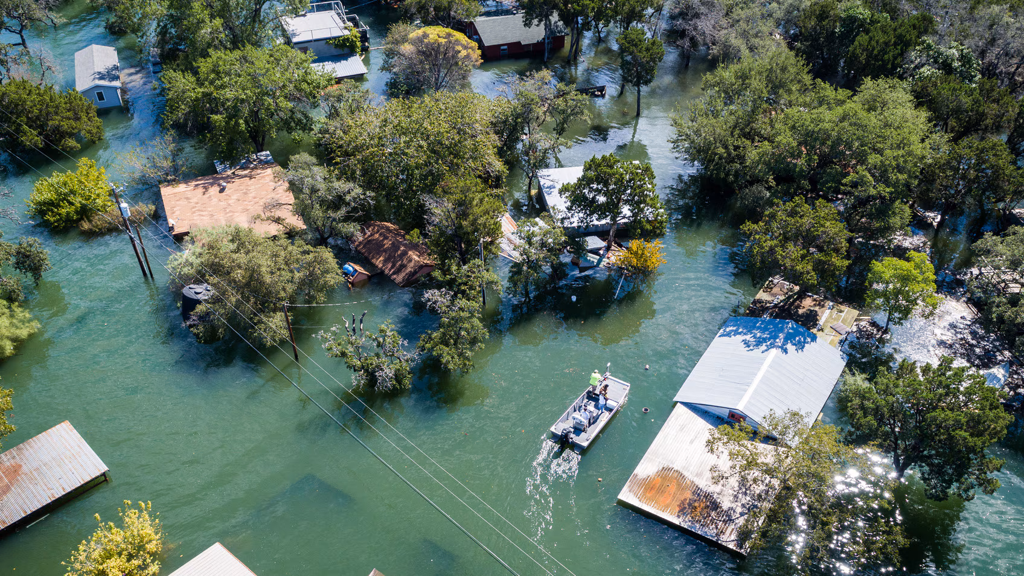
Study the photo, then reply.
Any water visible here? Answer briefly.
Yes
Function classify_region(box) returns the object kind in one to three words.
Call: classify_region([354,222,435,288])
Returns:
house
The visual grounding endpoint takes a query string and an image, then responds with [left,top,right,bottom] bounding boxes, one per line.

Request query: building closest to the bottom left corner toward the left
[174,541,257,576]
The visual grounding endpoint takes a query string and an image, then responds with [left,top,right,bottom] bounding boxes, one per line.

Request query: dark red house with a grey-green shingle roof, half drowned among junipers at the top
[469,9,568,62]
